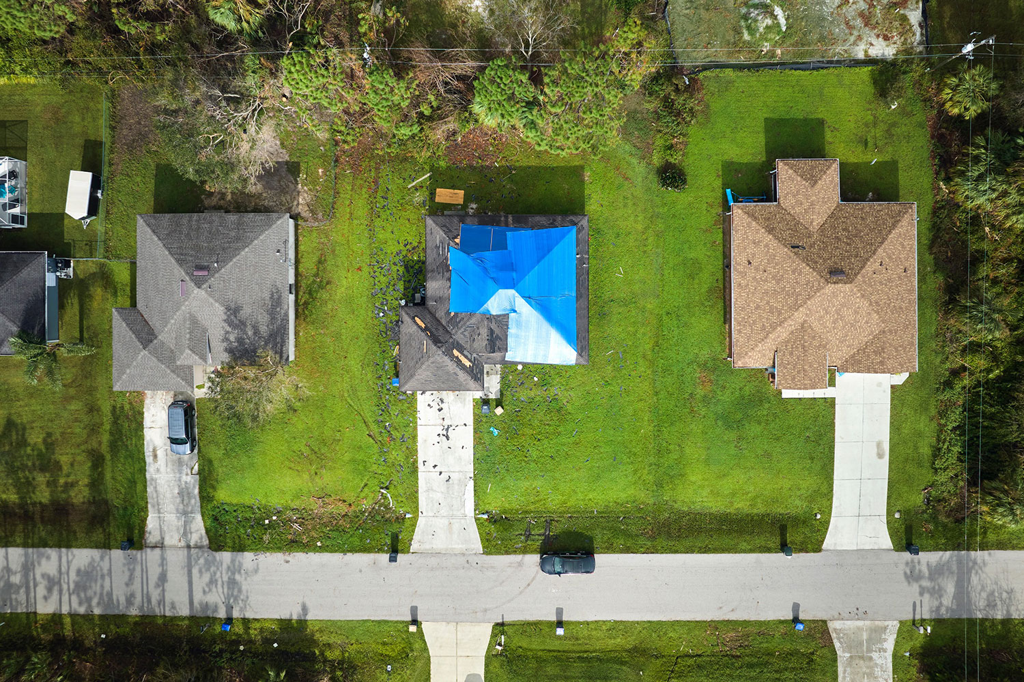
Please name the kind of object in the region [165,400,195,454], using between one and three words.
car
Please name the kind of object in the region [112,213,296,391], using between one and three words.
house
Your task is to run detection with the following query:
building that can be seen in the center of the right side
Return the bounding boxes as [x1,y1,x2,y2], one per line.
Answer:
[716,158,918,388]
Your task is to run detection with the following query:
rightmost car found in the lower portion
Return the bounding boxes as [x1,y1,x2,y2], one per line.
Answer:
[540,551,594,579]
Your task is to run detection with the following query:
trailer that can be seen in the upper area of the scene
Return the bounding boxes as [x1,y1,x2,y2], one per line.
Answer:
[59,171,103,235]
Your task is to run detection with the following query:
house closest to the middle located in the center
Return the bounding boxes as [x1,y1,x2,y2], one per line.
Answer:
[399,215,588,392]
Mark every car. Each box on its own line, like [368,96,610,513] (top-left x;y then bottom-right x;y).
[165,400,195,454]
[540,551,594,579]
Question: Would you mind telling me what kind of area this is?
residential area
